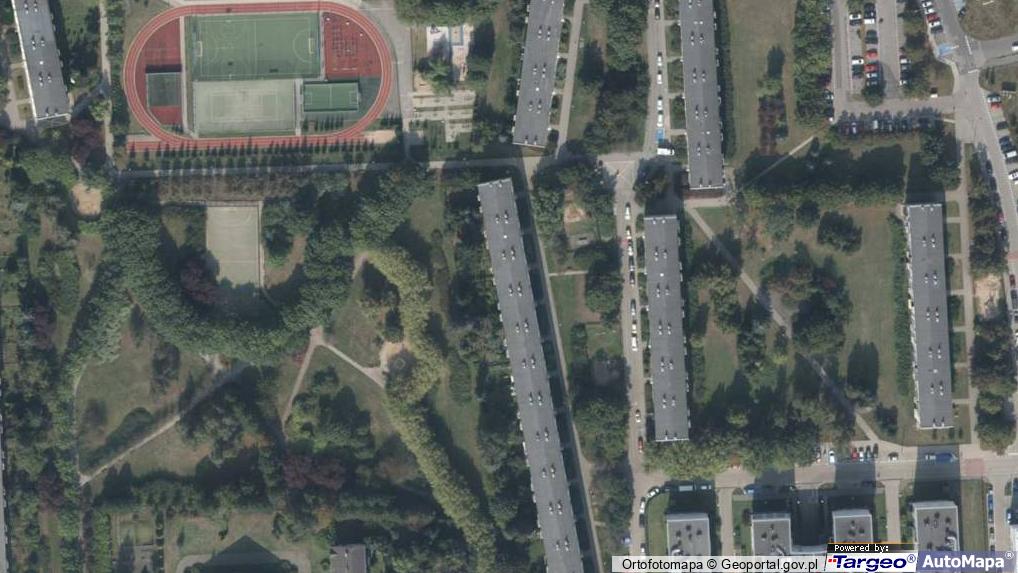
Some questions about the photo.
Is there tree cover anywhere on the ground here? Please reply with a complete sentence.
Yes, tree cover can be seen from above here.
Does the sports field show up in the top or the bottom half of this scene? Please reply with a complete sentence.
The top half of the photo is where the sports field is.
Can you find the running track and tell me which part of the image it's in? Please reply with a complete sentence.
The running track appears toward the top left of the photo.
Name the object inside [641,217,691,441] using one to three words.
building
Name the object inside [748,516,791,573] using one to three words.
building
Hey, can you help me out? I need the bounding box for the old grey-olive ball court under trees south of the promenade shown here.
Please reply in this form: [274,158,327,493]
[206,206,259,290]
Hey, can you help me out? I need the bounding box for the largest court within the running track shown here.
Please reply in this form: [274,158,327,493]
[194,80,296,136]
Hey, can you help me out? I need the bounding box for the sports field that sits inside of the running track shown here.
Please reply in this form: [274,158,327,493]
[193,16,318,81]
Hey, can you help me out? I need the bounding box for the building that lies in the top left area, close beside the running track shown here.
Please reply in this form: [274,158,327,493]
[15,0,78,121]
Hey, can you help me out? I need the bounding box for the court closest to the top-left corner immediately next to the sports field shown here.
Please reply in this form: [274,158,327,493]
[147,76,181,106]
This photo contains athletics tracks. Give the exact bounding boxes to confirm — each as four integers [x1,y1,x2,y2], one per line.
[123,0,394,152]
